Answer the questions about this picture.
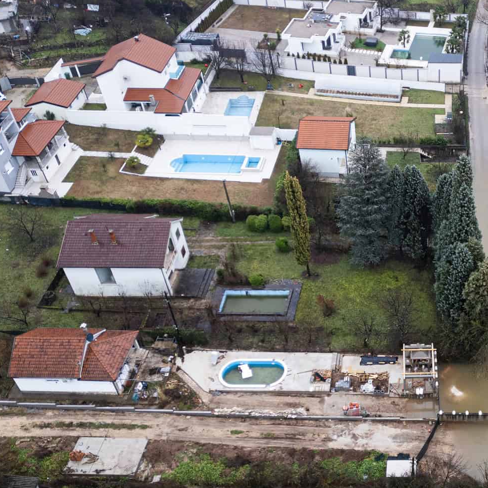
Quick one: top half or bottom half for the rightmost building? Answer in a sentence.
The rightmost building sits in the top half of the picture.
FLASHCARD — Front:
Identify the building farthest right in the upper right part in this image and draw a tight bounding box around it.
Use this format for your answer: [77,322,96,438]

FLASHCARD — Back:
[427,55,463,86]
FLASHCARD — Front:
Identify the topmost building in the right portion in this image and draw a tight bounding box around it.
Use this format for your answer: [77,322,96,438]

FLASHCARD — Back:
[284,0,374,60]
